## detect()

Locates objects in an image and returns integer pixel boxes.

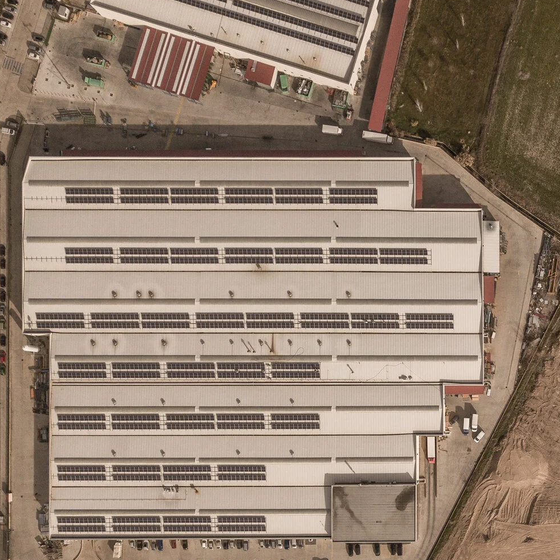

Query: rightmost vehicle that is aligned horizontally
[361,128,392,143]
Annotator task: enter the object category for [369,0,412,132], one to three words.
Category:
shed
